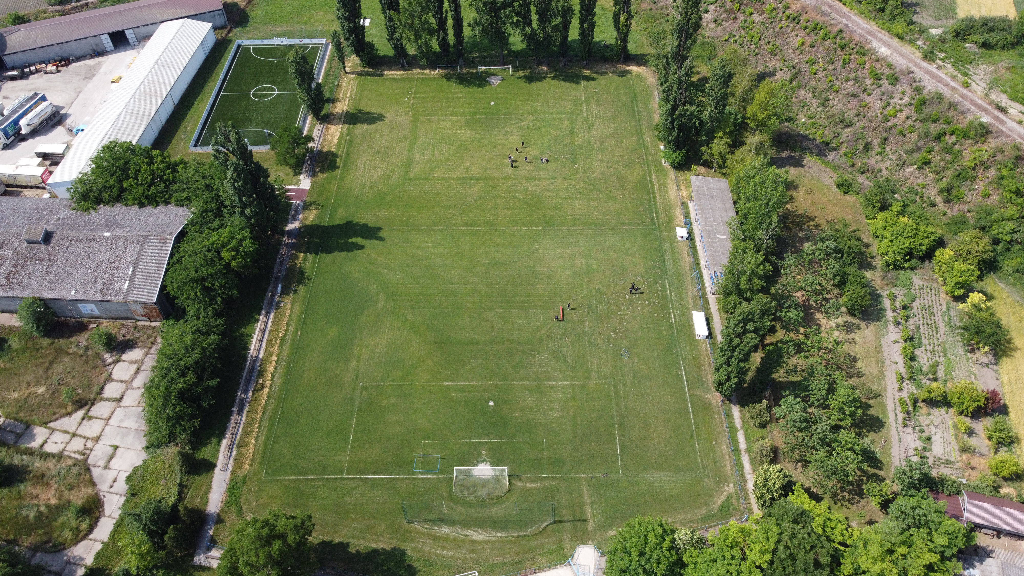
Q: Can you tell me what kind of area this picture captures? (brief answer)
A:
sports ground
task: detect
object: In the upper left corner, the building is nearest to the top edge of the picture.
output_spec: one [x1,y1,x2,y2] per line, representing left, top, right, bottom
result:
[0,0,229,68]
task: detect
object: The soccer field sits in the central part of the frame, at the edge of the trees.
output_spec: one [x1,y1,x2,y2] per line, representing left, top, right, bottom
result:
[244,70,724,491]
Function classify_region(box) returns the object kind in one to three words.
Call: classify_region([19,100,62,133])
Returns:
trailer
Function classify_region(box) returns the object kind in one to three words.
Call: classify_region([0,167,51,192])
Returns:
trailer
